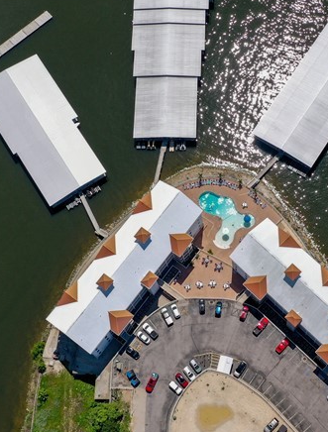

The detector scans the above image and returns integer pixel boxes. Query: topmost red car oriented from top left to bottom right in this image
[175,372,188,388]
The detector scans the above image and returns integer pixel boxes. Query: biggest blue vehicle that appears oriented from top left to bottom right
[125,370,139,387]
